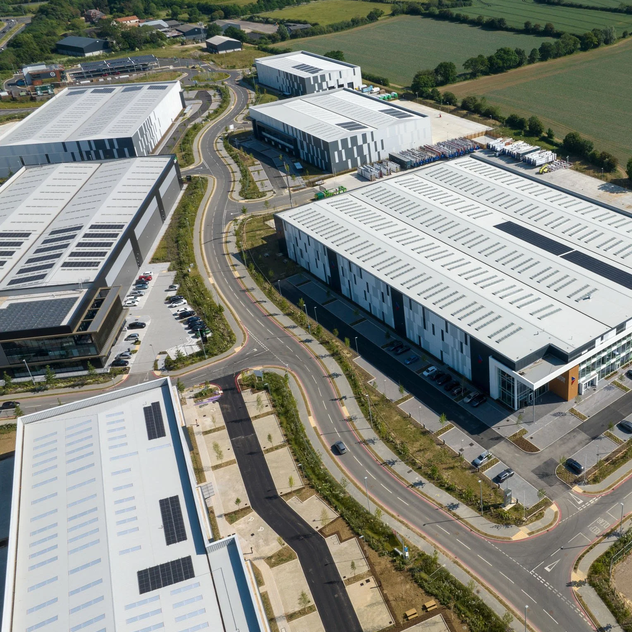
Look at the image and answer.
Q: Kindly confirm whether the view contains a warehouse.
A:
Yes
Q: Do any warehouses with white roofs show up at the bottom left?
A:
Yes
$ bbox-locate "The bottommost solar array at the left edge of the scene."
[0,297,72,331]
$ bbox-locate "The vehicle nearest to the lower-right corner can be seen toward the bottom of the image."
[564,456,585,473]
